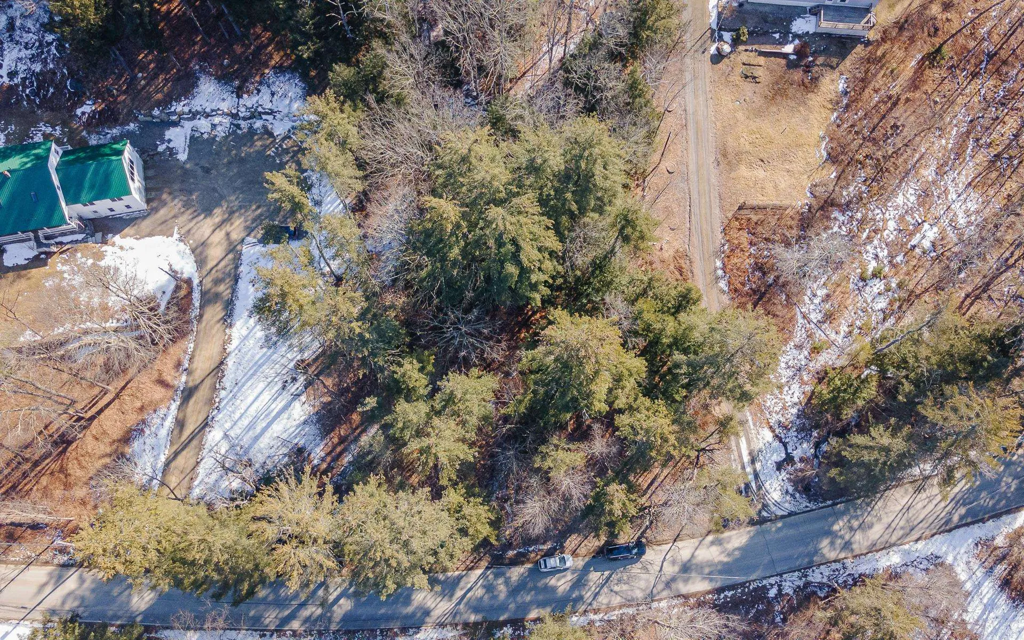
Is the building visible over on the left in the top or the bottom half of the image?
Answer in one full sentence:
The top half of the photo is where the building visible over on the left is.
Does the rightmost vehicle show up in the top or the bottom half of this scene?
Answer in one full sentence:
You can find the rightmost vehicle in the bottom half.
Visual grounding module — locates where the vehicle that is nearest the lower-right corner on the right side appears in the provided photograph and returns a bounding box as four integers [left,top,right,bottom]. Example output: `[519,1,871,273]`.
[605,540,647,561]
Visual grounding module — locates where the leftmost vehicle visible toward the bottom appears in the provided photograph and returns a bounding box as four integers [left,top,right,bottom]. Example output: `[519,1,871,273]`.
[537,553,574,572]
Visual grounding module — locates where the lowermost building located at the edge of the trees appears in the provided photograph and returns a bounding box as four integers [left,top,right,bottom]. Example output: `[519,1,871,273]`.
[0,140,147,261]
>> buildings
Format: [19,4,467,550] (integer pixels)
[0,140,147,261]
[743,0,889,32]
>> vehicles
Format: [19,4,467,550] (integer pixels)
[605,540,647,561]
[537,553,574,572]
